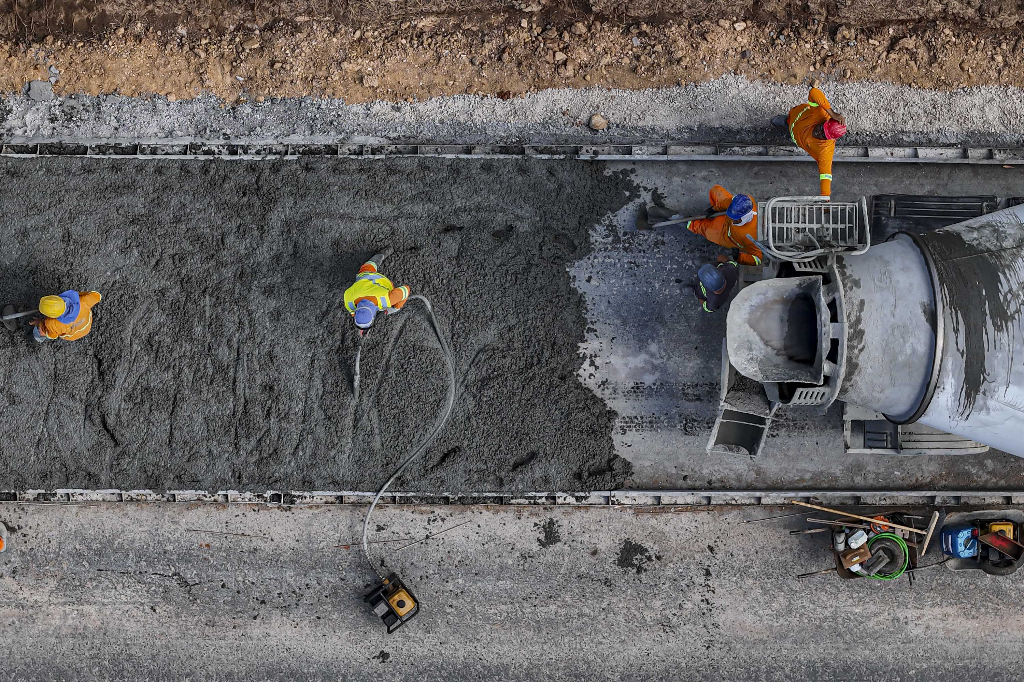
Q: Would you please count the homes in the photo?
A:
0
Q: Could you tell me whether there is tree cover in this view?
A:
No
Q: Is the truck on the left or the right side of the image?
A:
right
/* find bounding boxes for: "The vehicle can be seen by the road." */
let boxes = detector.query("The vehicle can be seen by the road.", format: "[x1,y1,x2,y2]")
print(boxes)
[710,193,1024,457]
